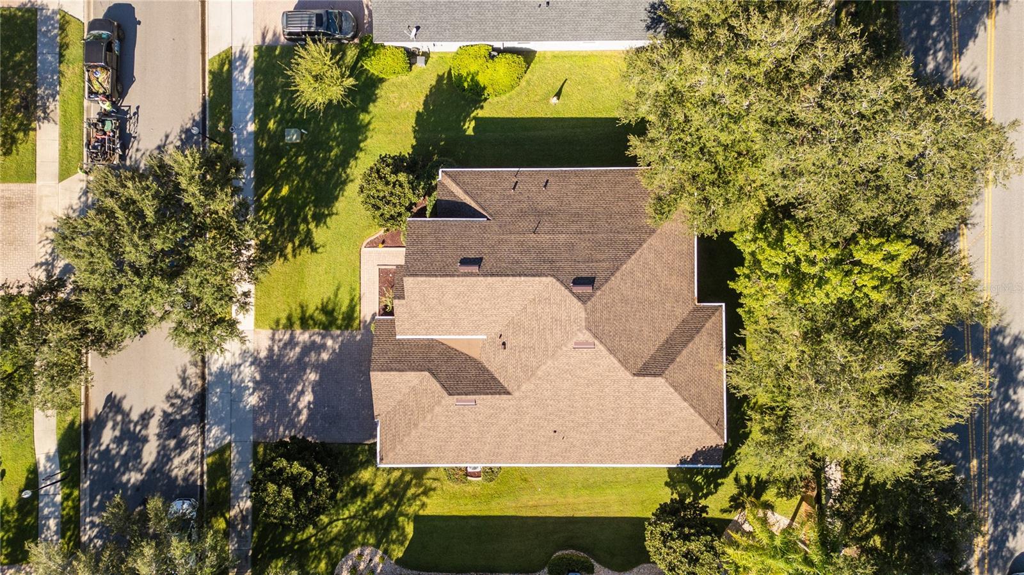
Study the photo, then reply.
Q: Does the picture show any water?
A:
No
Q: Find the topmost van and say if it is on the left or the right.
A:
left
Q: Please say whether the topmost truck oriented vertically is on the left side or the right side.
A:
left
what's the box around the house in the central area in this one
[371,166,727,468]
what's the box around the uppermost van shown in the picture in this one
[282,8,358,46]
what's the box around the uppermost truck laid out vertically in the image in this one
[82,21,124,105]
